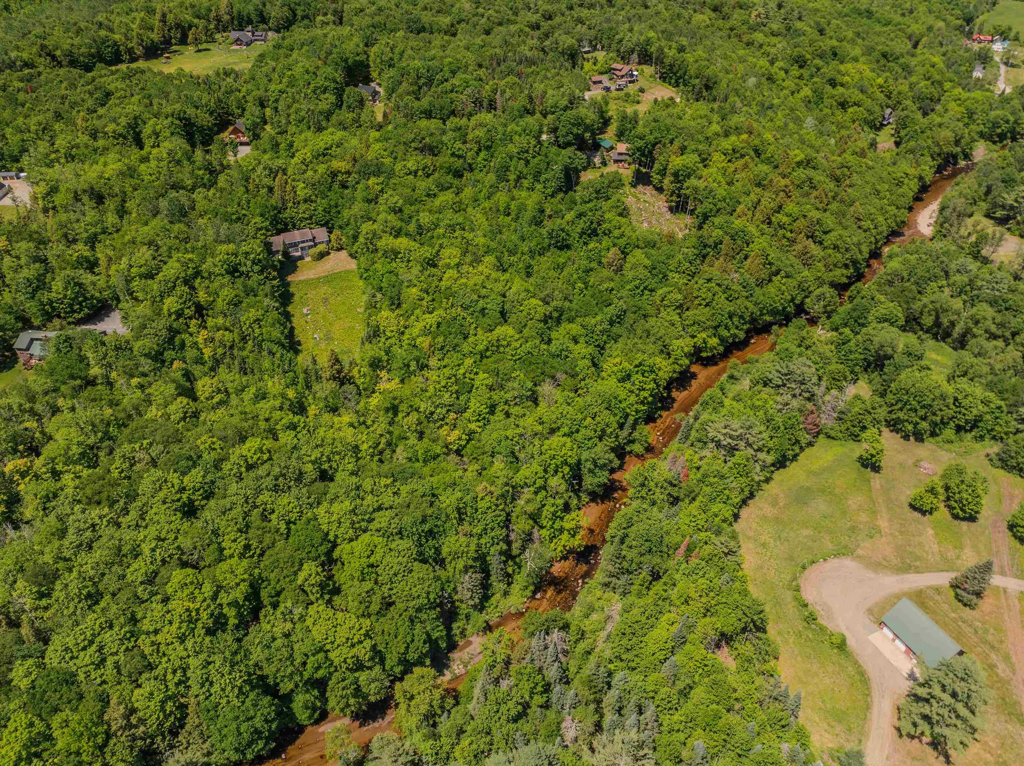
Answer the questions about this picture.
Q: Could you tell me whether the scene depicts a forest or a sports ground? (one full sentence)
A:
What you see here is a forest.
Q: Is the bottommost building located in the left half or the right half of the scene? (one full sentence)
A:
The bottommost building appears in the right half of the scene.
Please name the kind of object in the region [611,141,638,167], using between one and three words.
building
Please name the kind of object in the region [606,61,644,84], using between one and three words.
house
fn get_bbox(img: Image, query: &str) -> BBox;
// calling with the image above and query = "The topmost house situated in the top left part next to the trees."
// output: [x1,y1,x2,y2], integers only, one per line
[226,19,271,50]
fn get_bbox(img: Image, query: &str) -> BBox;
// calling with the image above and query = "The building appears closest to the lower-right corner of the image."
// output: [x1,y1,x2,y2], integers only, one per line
[880,598,970,678]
